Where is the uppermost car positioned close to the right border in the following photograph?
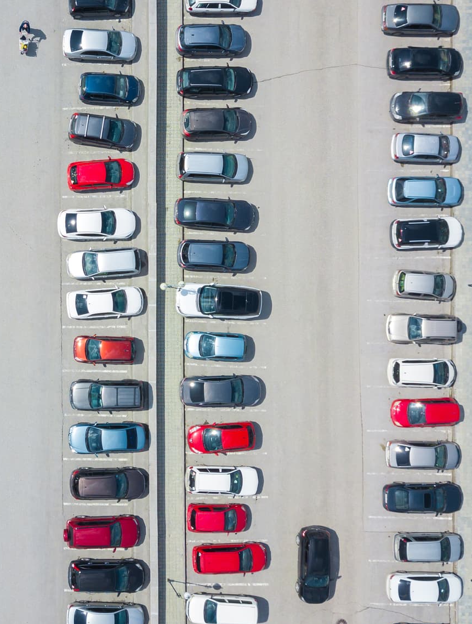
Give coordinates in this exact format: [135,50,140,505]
[380,0,460,40]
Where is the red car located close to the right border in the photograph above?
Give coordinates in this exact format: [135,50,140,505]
[389,393,462,432]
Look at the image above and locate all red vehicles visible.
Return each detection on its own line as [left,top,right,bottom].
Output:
[389,393,462,432]
[187,500,246,536]
[67,155,134,193]
[192,538,266,576]
[64,511,140,552]
[187,419,255,458]
[74,332,134,368]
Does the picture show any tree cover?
No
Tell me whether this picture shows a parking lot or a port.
parking lot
